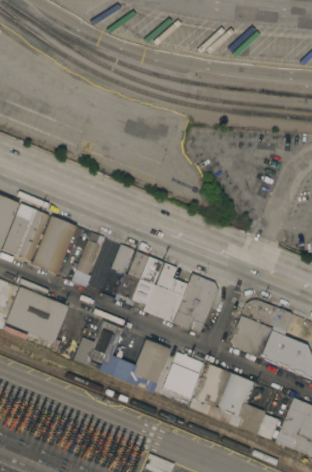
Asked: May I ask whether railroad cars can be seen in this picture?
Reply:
Yes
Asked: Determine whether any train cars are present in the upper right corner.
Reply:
No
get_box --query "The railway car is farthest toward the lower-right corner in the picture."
[250,448,280,466]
